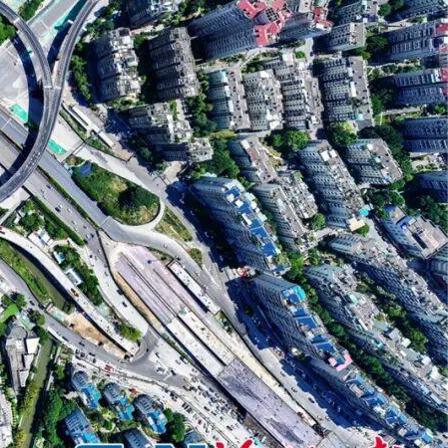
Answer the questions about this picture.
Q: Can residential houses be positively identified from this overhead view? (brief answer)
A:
Yes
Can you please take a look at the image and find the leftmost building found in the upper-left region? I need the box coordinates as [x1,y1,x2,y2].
[99,32,141,98]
